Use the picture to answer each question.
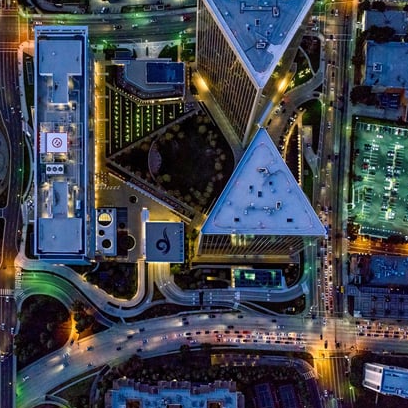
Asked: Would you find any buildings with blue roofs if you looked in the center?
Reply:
Yes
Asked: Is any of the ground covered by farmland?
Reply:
No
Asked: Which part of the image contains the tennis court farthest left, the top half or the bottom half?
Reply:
bottom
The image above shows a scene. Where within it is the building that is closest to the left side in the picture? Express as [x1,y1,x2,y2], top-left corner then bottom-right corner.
[34,26,94,265]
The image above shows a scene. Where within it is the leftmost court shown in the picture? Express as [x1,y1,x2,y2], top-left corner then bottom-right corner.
[248,378,280,408]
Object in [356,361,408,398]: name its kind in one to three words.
building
